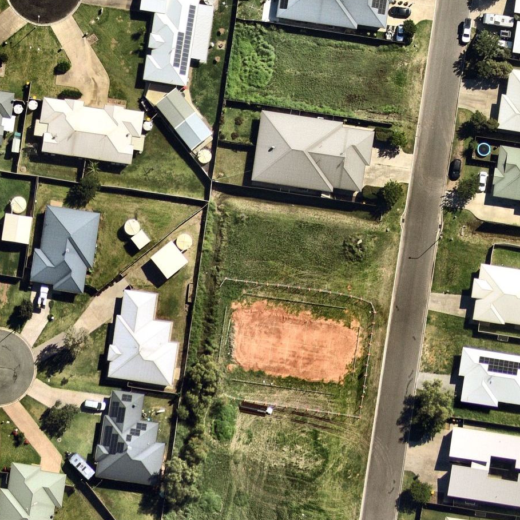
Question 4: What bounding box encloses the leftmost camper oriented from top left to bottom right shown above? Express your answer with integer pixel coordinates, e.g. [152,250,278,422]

[68,452,95,480]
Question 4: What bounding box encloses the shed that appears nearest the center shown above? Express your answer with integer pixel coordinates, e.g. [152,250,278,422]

[151,241,189,279]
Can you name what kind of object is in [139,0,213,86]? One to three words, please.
house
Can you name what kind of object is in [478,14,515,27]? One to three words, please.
vehicle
